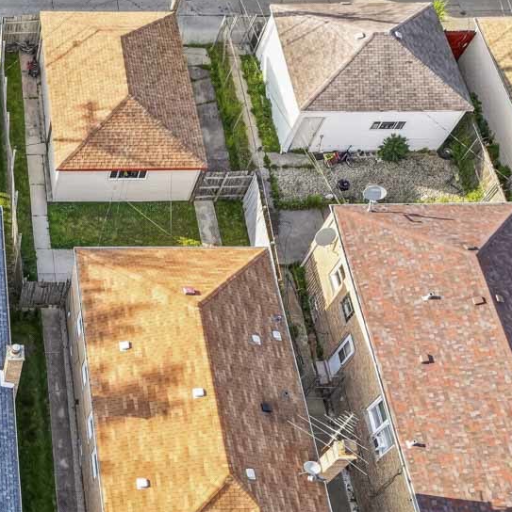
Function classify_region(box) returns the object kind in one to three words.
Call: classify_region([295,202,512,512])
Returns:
house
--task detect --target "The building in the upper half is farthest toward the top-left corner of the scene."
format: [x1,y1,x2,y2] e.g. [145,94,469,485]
[38,8,210,201]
